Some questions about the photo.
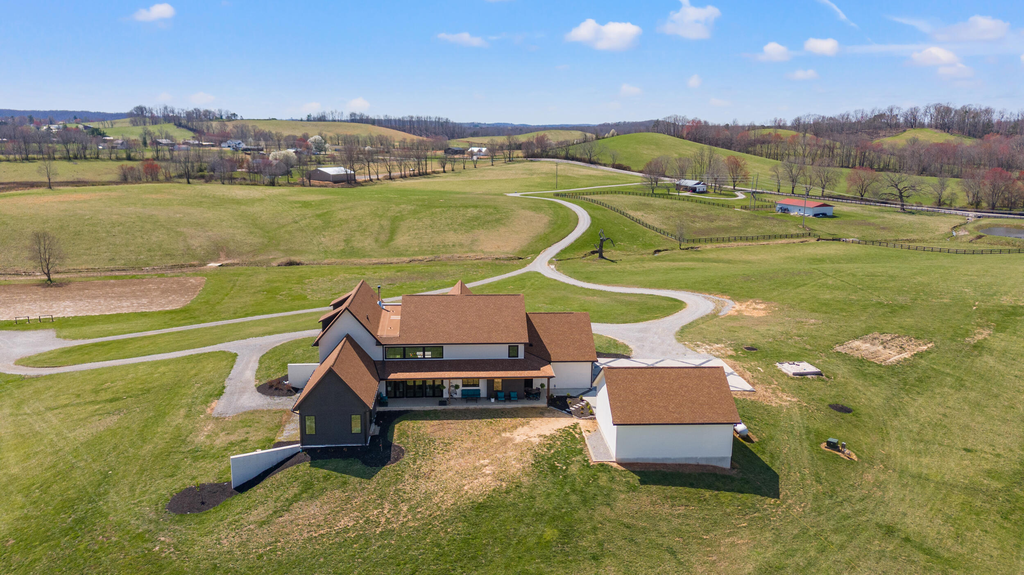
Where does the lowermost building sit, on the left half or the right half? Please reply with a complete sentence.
The lowermost building sits on the right side.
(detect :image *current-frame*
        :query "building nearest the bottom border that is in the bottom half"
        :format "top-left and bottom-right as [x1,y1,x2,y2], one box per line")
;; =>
[592,365,742,469]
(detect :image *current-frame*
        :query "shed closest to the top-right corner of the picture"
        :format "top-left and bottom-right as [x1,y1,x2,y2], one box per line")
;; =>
[770,199,824,217]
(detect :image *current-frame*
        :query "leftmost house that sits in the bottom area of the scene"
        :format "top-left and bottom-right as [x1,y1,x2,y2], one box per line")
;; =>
[290,279,598,449]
